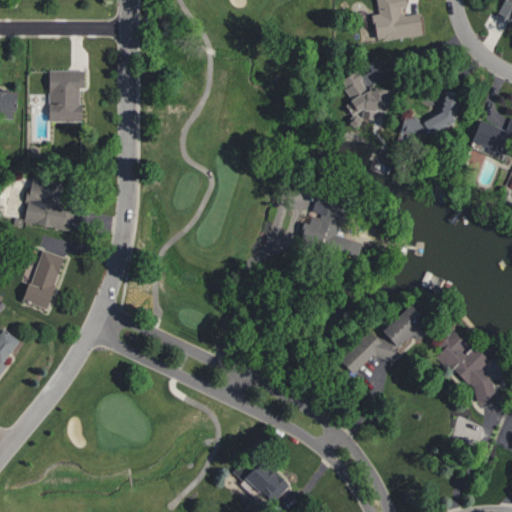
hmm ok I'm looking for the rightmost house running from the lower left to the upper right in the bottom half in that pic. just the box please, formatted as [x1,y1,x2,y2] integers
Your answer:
[345,308,419,373]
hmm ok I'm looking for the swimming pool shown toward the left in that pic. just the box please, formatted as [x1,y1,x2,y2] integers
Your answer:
[30,94,50,144]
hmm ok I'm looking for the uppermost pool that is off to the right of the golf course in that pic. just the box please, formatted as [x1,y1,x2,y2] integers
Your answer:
[476,154,500,190]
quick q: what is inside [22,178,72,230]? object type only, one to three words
house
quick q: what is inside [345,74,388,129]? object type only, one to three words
house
